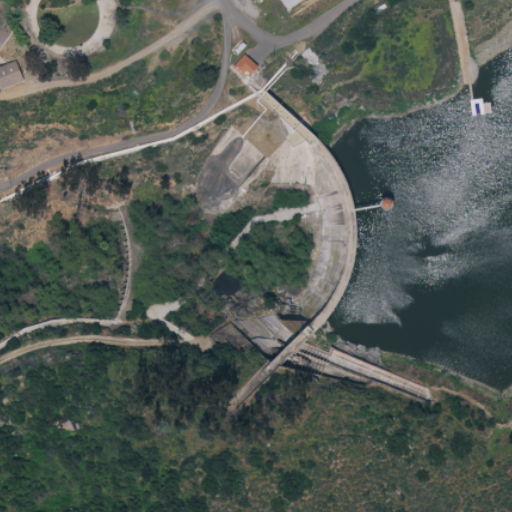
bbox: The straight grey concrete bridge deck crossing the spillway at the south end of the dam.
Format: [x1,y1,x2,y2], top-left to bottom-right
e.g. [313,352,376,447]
[228,326,308,410]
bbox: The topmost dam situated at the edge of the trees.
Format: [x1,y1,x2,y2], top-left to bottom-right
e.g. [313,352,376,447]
[262,90,358,338]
